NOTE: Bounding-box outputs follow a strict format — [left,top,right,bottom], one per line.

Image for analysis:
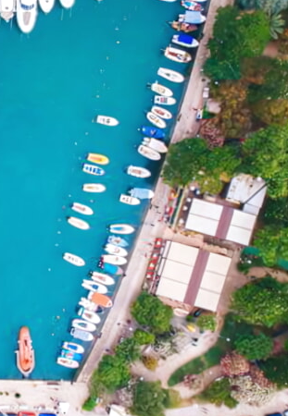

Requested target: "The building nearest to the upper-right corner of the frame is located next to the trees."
[219,177,265,214]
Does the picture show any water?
Yes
